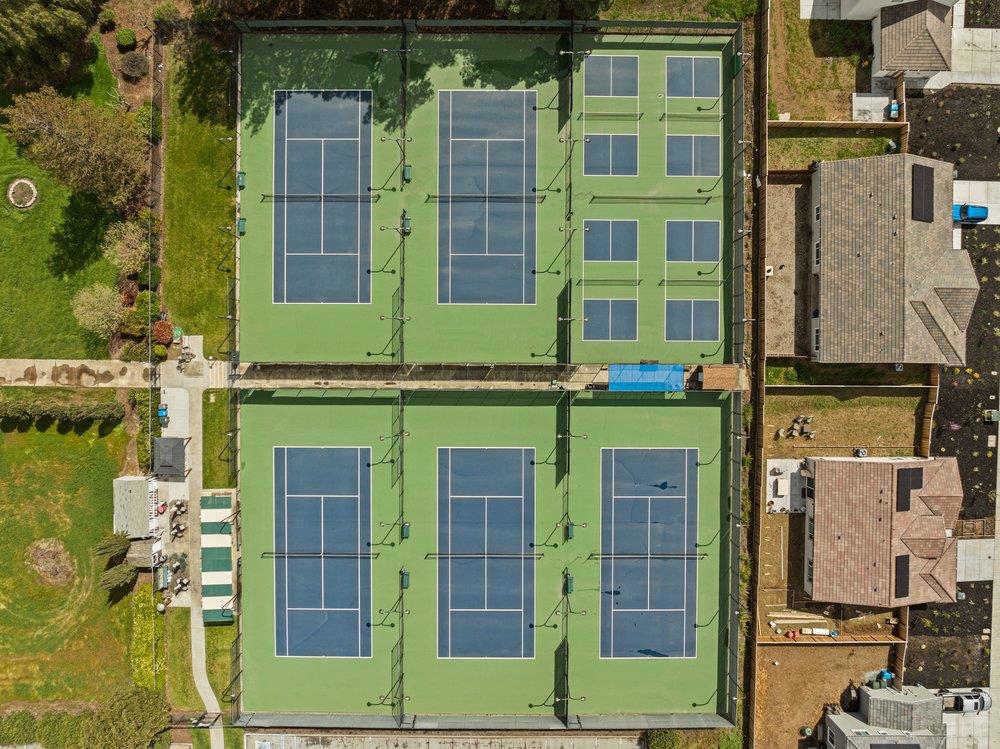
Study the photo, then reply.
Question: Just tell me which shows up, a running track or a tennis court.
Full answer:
The image shows a tennis court.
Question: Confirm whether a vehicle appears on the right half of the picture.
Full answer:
Yes, a vehicle appears on the right half of the picture.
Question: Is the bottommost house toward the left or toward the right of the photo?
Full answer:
The bottommost house sits on the right side.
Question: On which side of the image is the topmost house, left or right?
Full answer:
It is on the right.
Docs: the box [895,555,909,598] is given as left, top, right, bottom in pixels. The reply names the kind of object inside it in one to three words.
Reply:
solar panel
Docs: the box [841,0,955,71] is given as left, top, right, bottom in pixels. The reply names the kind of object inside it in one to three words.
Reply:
house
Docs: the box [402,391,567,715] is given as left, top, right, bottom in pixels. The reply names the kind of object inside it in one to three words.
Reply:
tennis court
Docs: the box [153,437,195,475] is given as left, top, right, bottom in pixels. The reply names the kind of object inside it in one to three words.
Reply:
gazebo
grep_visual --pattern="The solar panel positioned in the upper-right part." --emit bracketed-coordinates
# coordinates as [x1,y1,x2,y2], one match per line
[911,164,934,223]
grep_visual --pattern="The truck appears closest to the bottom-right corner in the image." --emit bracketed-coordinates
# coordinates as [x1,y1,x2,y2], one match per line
[935,689,987,715]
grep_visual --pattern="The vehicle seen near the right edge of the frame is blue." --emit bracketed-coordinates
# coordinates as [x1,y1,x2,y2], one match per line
[953,204,987,225]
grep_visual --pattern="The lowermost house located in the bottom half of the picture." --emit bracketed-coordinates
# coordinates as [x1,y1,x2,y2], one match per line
[826,687,950,749]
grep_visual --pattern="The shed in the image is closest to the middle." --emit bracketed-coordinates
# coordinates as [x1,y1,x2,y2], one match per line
[697,363,739,391]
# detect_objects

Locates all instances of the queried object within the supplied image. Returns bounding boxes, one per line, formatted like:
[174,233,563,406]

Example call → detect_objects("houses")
[826,687,950,749]
[841,0,955,71]
[812,152,980,366]
[806,457,964,607]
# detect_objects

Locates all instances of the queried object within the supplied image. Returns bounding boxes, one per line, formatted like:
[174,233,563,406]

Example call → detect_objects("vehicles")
[935,689,987,715]
[953,204,987,225]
